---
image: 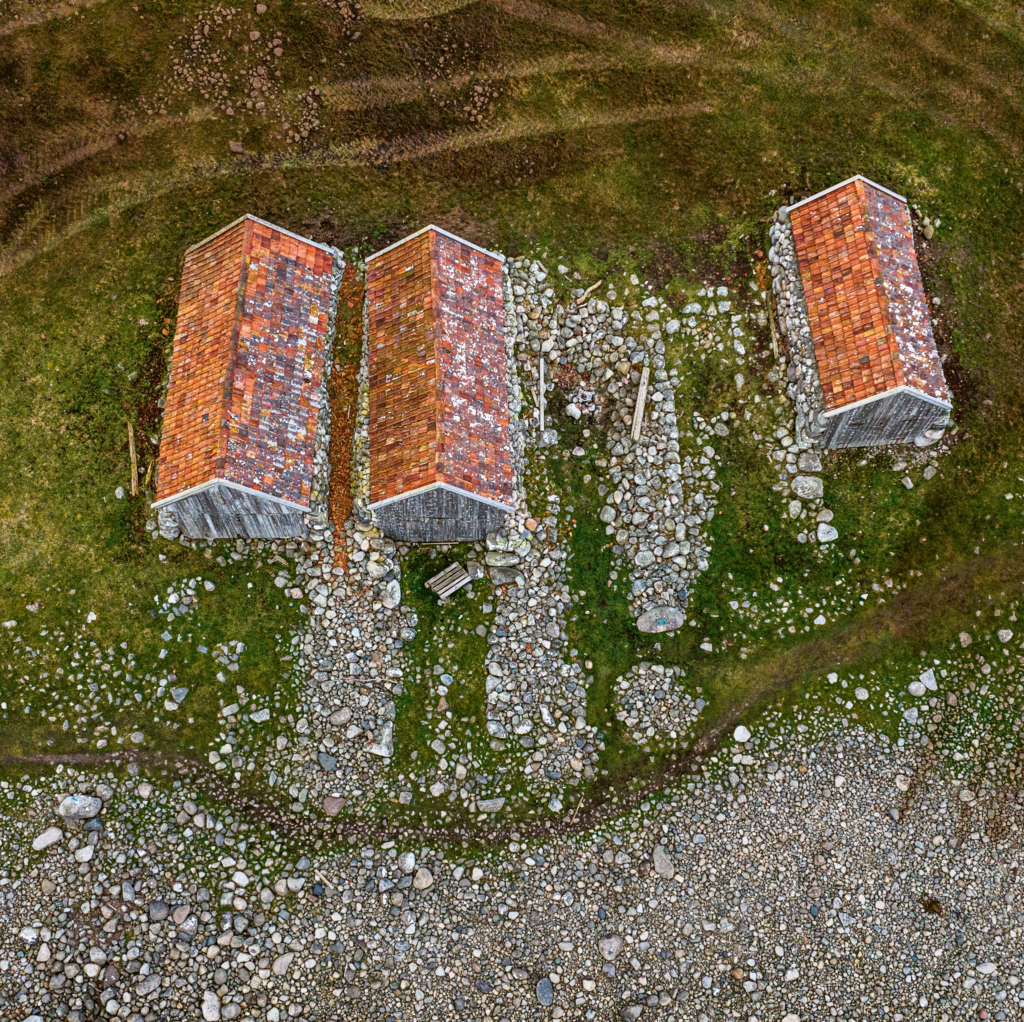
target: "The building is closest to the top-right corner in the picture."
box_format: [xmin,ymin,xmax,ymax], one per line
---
[768,172,960,461]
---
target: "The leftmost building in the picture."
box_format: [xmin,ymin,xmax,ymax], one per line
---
[145,211,344,553]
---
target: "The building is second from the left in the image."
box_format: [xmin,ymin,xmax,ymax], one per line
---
[355,221,529,551]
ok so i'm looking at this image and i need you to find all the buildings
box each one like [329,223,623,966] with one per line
[145,211,344,553]
[355,221,529,551]
[768,172,960,461]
